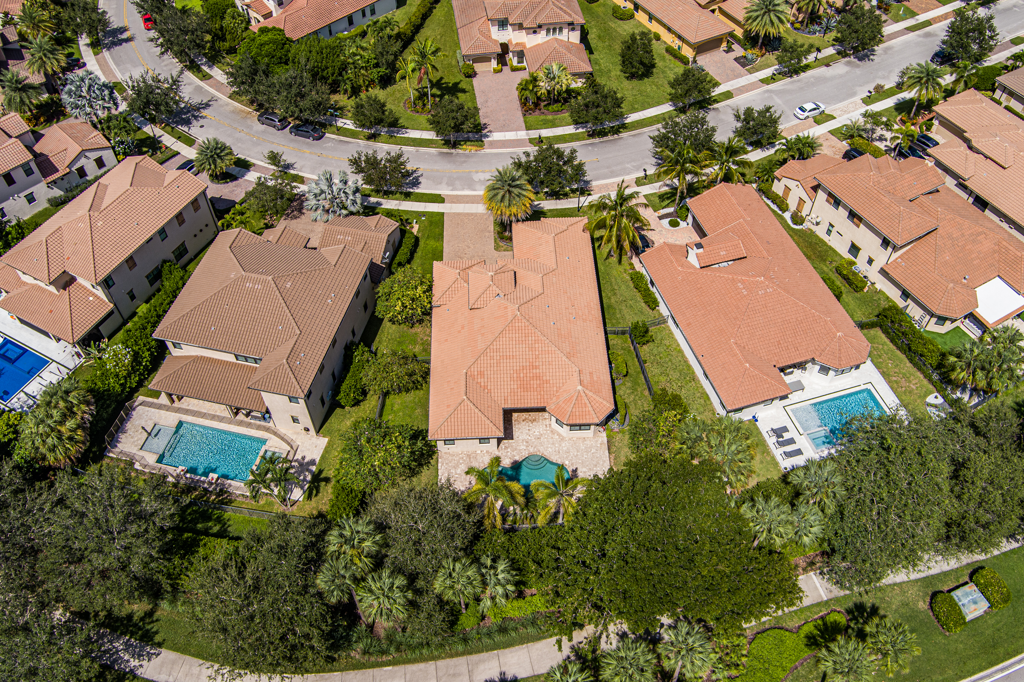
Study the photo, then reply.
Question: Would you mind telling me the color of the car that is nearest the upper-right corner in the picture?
black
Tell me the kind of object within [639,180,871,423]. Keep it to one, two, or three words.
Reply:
house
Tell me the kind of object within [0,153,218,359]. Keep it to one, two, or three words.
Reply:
house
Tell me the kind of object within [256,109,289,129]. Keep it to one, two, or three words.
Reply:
car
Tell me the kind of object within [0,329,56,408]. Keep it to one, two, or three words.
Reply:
swimming pool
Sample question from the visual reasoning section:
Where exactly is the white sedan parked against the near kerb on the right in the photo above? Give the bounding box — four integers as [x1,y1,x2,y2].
[794,100,829,119]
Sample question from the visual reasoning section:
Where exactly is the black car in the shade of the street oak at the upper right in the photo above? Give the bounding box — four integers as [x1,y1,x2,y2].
[929,42,961,64]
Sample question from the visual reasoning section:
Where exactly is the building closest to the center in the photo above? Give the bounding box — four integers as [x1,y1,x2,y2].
[428,215,615,452]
